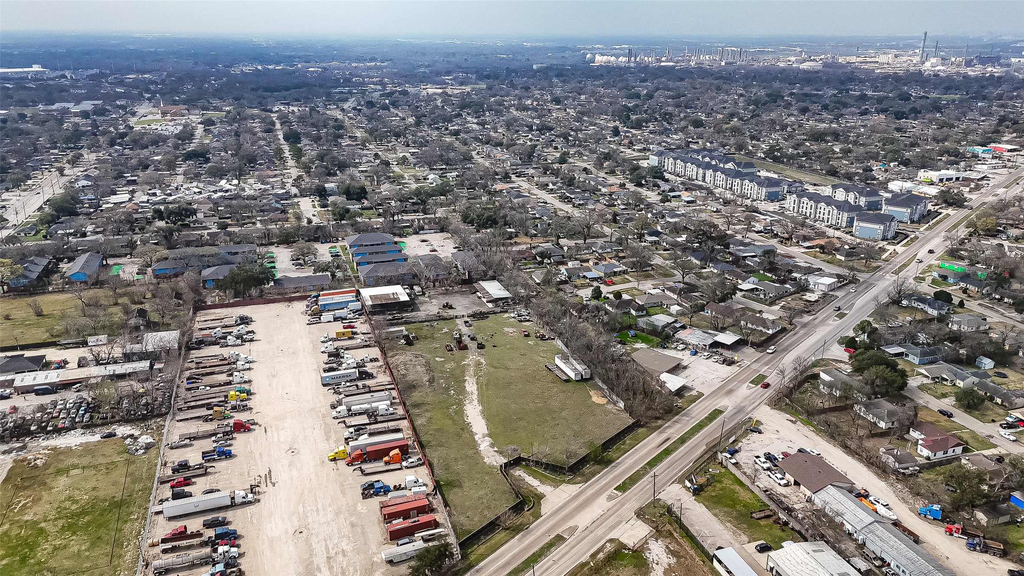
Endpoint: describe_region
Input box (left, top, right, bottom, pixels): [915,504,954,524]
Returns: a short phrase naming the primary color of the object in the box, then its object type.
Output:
blue vehicle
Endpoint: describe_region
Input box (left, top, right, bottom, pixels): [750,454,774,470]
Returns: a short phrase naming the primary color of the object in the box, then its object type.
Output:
white vehicle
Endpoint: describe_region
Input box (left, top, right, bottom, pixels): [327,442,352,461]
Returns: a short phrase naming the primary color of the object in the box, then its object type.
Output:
yellow vehicle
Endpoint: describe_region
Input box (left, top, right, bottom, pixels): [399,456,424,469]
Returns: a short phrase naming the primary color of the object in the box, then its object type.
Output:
gray vehicle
